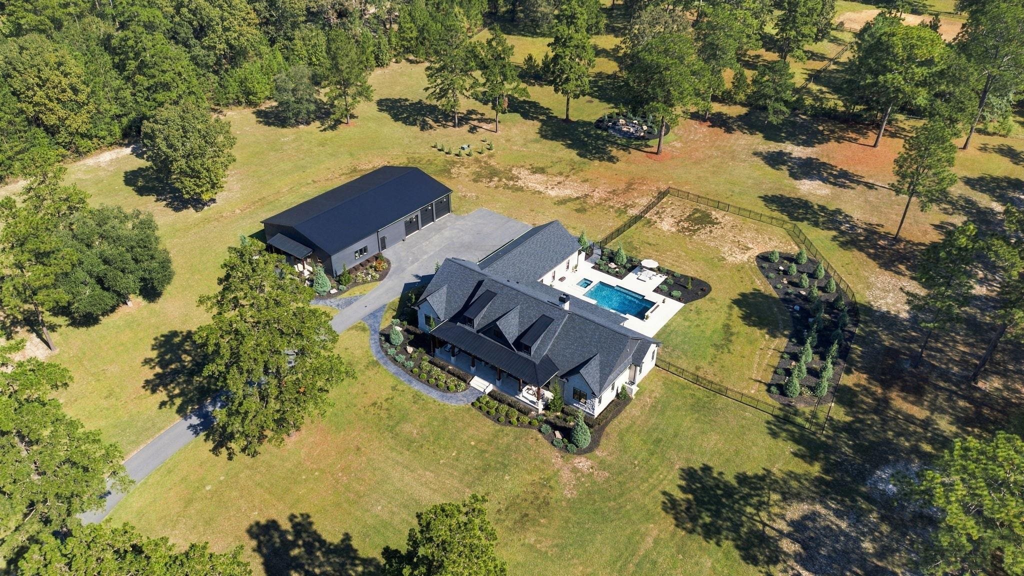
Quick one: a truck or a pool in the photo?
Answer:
pool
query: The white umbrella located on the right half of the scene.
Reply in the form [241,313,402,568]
[641,259,659,279]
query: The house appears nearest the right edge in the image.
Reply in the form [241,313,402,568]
[410,220,663,416]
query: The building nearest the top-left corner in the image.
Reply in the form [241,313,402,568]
[261,166,453,277]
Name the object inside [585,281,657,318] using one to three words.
swimming pool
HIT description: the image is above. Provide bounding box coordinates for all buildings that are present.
[410,220,663,416]
[261,166,453,277]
